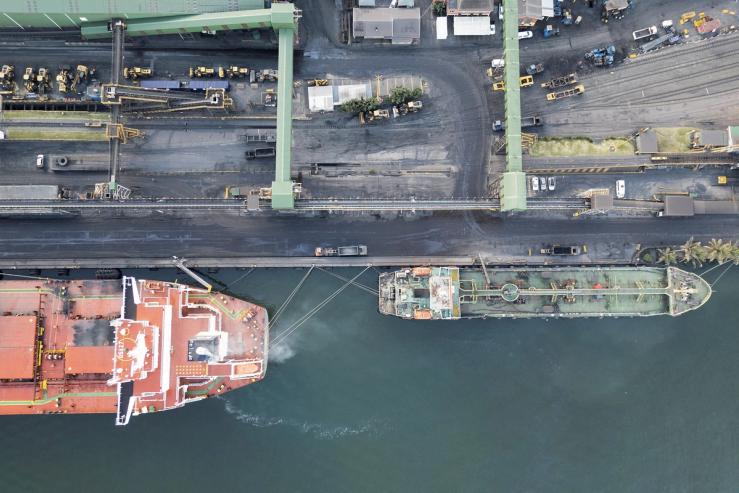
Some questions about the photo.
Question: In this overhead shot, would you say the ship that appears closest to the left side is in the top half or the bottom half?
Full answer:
You can find the ship that appears closest to the left side in the bottom half.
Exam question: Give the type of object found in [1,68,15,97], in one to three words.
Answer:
work vehicle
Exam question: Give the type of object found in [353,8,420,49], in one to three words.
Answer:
building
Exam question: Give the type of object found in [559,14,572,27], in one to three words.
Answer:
vehicle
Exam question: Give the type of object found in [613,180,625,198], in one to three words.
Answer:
vehicle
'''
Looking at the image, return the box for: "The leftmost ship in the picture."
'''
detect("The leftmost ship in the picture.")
[0,276,270,424]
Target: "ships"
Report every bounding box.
[0,276,270,424]
[377,266,712,319]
